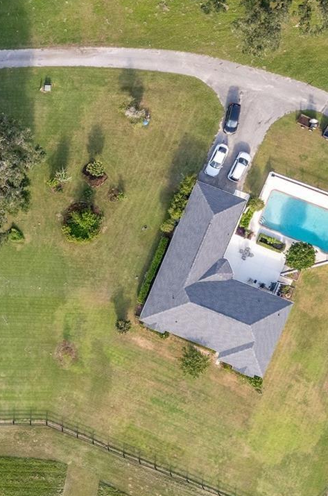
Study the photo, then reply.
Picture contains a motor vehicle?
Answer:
Yes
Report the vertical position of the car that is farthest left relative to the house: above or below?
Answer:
above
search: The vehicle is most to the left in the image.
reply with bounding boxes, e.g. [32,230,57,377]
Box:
[204,142,228,177]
